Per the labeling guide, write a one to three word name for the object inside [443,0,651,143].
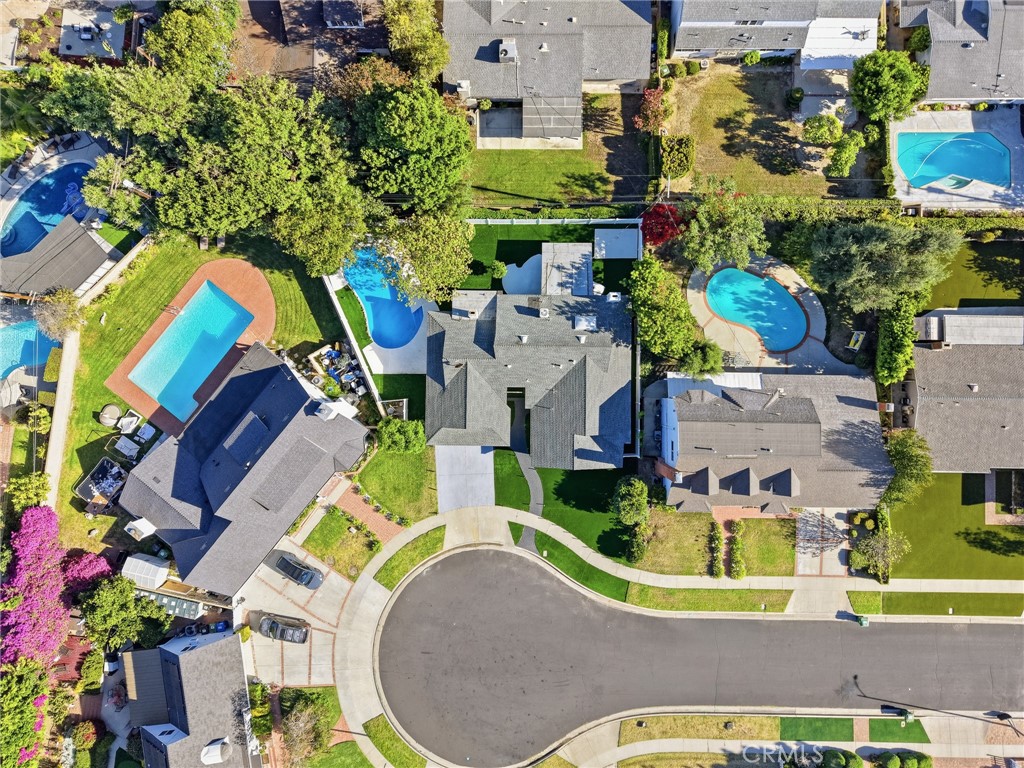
house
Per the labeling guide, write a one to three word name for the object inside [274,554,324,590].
car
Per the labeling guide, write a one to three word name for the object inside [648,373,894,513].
house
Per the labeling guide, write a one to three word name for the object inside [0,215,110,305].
building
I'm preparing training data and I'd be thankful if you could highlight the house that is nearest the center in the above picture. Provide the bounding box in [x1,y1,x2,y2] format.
[427,243,632,470]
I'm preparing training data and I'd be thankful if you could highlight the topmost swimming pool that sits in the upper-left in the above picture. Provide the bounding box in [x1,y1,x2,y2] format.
[0,160,101,258]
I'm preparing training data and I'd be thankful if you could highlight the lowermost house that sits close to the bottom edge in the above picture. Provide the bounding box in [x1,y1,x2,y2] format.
[122,627,262,768]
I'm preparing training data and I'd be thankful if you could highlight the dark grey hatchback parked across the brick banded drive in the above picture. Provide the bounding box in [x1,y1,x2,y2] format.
[259,613,308,642]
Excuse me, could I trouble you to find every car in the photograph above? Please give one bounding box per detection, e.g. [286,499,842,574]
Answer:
[274,554,324,590]
[259,613,308,642]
